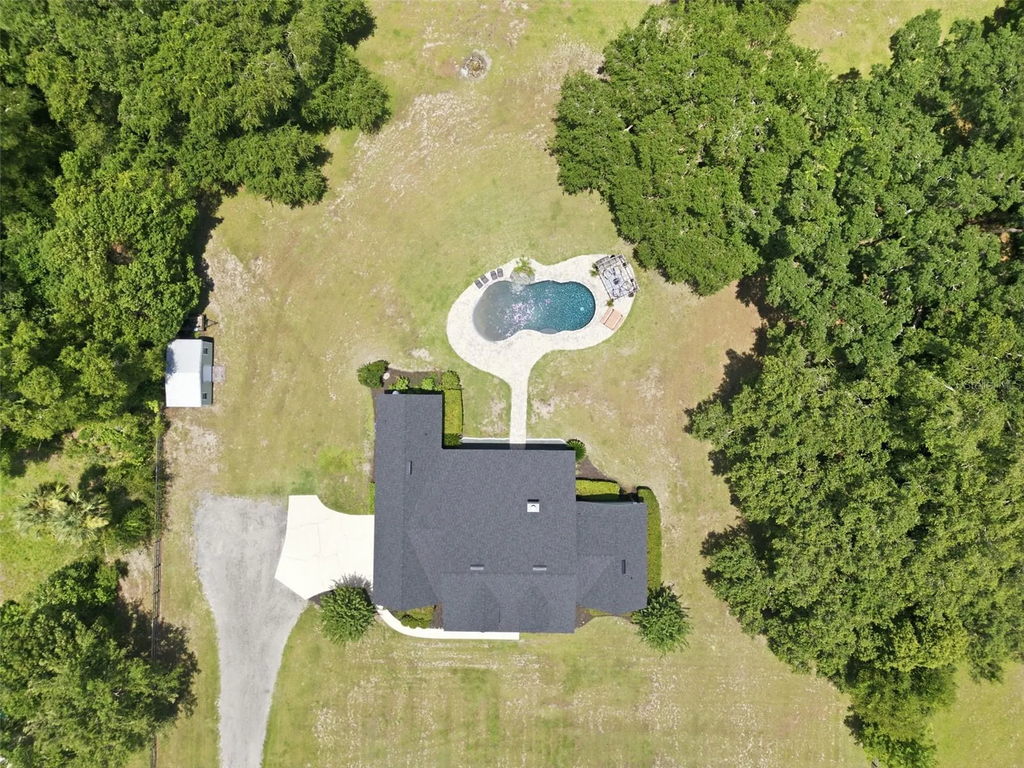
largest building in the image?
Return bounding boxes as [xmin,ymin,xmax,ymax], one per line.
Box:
[373,391,648,634]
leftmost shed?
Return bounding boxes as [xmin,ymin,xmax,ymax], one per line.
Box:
[163,339,212,407]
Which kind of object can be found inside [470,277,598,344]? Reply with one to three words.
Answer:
swimming pool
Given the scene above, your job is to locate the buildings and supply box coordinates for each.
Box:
[373,391,648,634]
[163,339,212,407]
